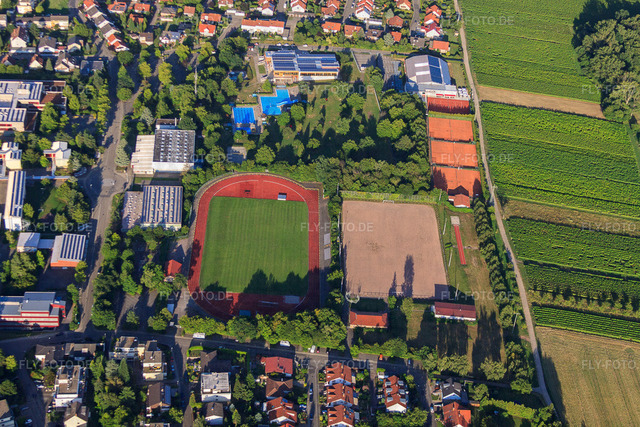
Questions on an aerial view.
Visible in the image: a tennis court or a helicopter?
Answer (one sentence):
Of the two, only a tennis court appears.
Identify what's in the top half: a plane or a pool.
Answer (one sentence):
The feature located in the top half is a pool.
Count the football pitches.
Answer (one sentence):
The number of football pitches here is 2.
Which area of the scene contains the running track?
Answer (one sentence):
Look in the center portion of the view to spot the running track.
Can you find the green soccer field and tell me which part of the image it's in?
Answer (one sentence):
The green soccer field is located in the center region of the scene.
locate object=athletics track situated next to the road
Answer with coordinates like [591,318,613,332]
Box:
[181,171,328,325]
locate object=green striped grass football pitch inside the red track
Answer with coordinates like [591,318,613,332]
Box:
[200,196,308,296]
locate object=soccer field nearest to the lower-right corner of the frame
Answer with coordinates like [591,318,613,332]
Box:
[342,201,448,297]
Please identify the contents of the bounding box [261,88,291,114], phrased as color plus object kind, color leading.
blue swimming pool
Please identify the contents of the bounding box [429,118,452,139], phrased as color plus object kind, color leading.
orange tennis court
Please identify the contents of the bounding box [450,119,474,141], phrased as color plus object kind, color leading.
orange tennis court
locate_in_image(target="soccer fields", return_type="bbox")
[200,196,308,296]
[342,201,448,297]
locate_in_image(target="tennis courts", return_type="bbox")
[453,143,478,166]
[456,169,482,196]
[433,167,458,193]
[431,141,455,164]
[450,119,474,141]
[429,118,452,139]
[449,99,469,114]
